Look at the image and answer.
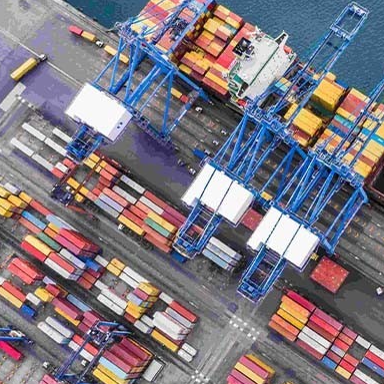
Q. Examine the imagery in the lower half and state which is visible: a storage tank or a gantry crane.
gantry crane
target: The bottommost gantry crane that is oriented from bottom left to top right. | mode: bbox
[54,318,139,384]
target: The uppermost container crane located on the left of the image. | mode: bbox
[49,0,209,177]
